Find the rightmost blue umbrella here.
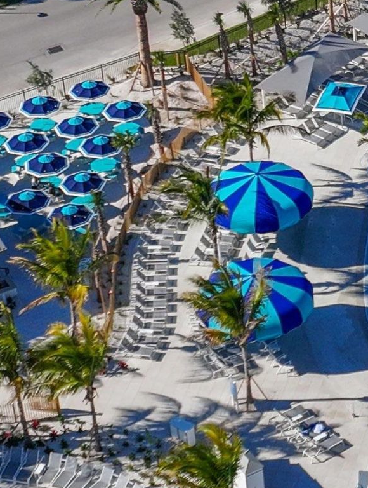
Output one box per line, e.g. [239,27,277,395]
[312,81,368,131]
